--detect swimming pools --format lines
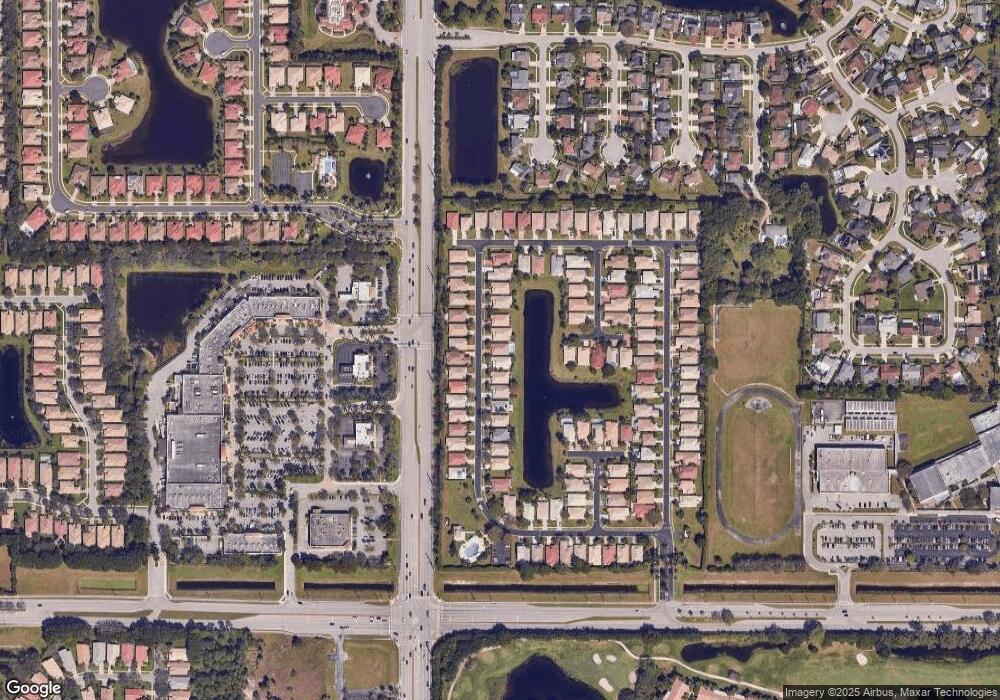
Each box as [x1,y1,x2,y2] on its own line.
[319,156,336,179]
[460,536,485,563]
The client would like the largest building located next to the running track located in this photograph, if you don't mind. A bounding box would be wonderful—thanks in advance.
[816,447,890,493]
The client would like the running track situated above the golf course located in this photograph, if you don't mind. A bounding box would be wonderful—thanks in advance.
[716,383,803,544]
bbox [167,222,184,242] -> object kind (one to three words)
house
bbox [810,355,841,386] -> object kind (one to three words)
house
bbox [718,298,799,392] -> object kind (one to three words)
sports field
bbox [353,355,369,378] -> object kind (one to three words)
building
